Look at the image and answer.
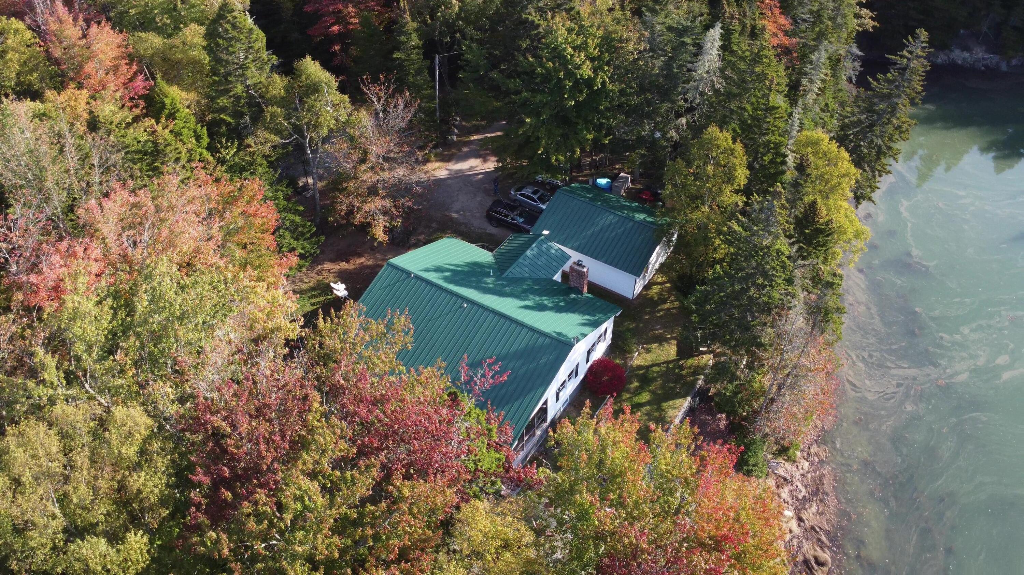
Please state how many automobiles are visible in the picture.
two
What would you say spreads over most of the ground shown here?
trees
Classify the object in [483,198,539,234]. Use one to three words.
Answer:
car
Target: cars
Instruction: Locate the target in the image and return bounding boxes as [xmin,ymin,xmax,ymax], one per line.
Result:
[483,198,539,234]
[506,181,554,209]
